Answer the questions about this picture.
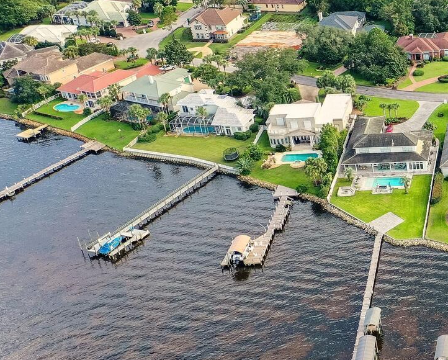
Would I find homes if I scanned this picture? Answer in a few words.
Yes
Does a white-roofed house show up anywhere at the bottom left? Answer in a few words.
No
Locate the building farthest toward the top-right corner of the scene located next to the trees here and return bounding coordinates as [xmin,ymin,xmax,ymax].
[396,29,448,62]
